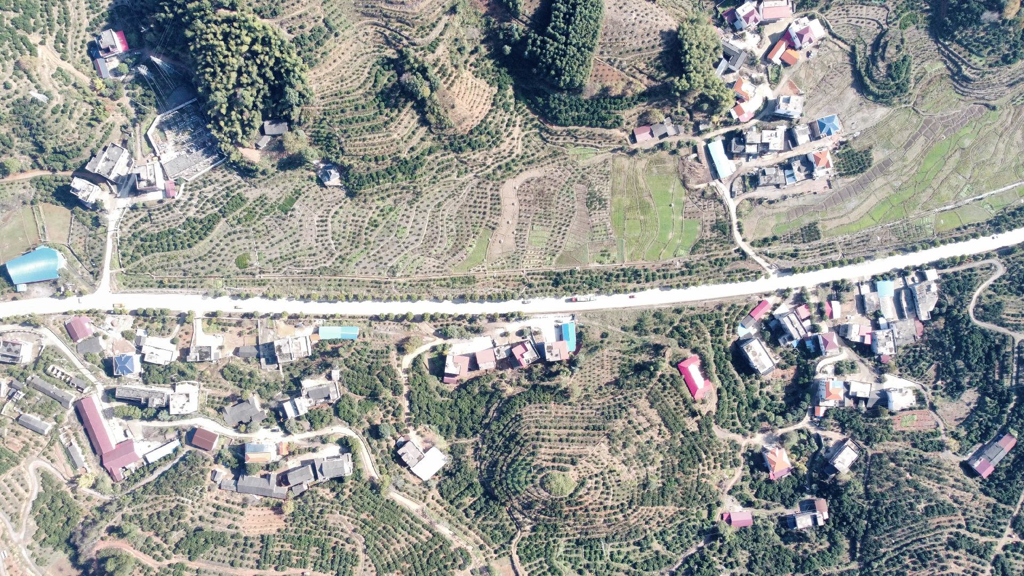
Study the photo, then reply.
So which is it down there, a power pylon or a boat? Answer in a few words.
power pylon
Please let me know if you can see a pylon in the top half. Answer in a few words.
Yes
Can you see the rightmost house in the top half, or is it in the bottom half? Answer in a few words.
bottom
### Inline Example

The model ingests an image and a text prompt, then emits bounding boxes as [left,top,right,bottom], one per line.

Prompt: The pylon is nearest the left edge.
[23,91,52,107]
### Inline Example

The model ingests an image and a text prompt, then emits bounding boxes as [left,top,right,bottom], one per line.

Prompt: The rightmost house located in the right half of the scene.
[971,432,1016,478]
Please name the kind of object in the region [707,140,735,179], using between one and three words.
building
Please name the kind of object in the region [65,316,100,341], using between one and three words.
house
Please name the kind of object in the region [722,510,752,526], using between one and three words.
barn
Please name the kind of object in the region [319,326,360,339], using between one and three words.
shed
